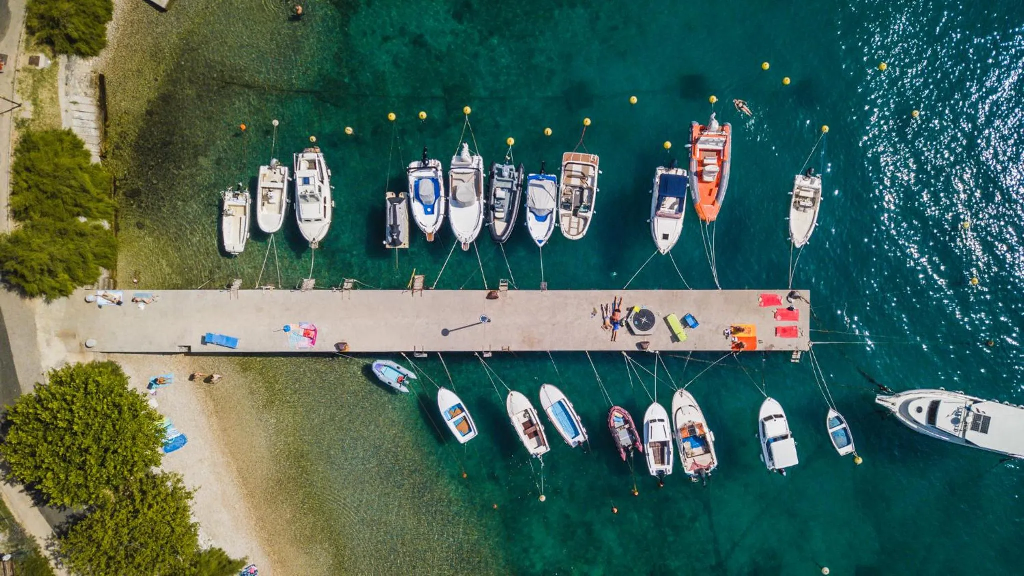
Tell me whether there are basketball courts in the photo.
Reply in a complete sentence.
No, no basketball court is visible in the view.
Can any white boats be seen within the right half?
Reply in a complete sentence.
Yes, a white boat is visible within the right half.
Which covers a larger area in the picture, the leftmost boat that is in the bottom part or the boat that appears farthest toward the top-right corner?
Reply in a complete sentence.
The boat that appears farthest toward the top-right corner takes up more space than the leftmost boat that is in the bottom part does.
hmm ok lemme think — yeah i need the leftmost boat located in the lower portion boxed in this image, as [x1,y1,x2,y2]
[373,359,418,393]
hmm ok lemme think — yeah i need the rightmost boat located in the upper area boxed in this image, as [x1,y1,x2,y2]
[784,165,822,248]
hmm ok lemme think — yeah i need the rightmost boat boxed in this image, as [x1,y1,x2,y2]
[875,385,1024,458]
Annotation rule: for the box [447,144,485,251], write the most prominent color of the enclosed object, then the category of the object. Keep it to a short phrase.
white boat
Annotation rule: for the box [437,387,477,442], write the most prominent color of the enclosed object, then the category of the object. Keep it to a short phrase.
white boat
